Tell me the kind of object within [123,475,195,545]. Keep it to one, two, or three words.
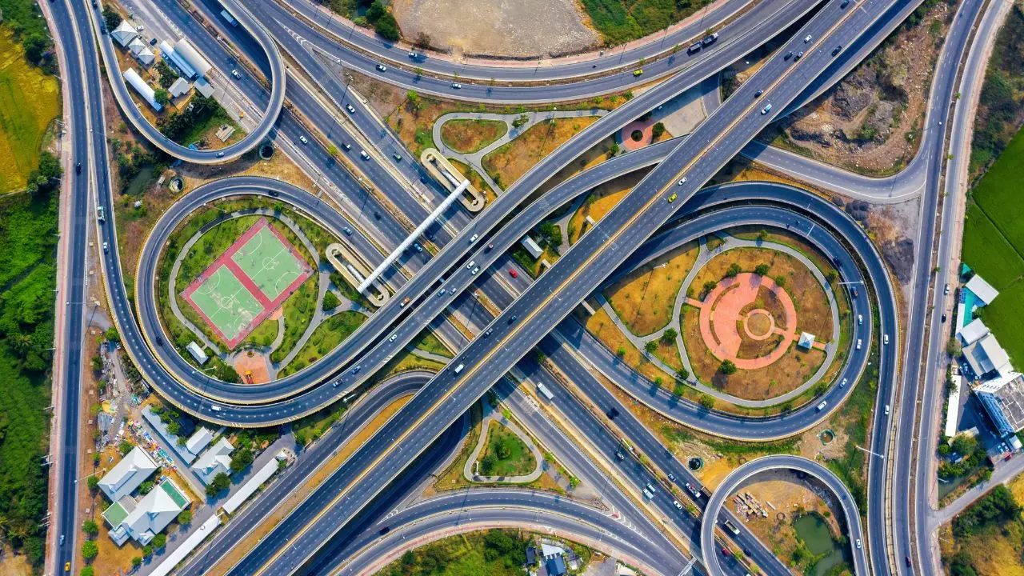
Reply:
building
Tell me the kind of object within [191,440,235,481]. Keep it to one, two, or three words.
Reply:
house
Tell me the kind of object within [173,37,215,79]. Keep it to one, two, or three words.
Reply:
building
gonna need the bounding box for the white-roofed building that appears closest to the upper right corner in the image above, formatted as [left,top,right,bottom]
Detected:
[960,272,1000,303]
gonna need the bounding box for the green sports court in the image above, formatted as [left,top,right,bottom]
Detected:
[179,217,315,350]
